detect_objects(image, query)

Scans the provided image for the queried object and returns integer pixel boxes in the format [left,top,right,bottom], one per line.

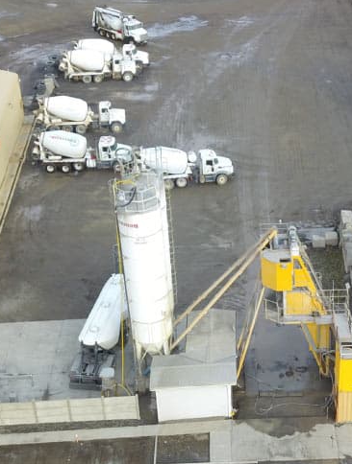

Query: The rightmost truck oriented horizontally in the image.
[136,137,235,182]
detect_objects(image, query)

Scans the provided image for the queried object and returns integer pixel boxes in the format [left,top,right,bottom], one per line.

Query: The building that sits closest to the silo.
[149,312,238,422]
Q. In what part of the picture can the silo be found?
center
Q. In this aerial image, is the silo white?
Yes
